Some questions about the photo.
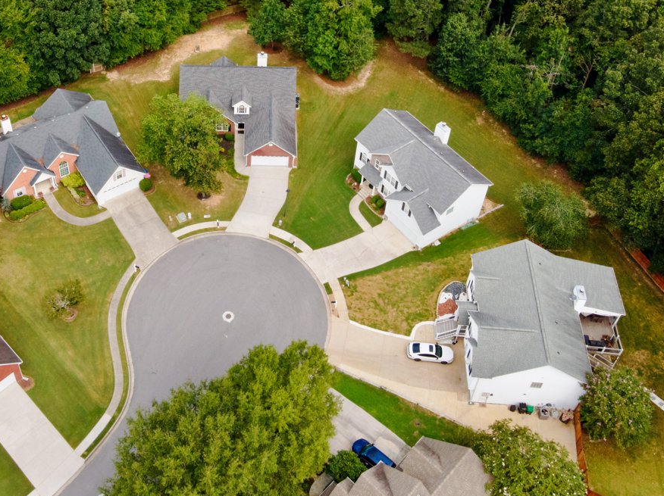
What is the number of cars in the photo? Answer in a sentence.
I count 2 cars.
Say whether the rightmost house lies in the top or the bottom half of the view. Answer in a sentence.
Seen from above, the rightmost house lies in the bottom half of the view.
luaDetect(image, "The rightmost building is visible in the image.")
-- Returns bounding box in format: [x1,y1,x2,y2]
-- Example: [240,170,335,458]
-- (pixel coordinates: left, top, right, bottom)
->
[421,237,632,412]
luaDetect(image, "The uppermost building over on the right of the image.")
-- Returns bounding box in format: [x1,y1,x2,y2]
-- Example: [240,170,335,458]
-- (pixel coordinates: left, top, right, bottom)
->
[347,108,491,252]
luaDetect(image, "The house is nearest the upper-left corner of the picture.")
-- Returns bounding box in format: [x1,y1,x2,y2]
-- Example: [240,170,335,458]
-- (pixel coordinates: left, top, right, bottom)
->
[0,85,144,207]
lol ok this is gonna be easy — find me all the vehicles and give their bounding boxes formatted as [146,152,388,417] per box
[353,434,391,460]
[407,339,456,362]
